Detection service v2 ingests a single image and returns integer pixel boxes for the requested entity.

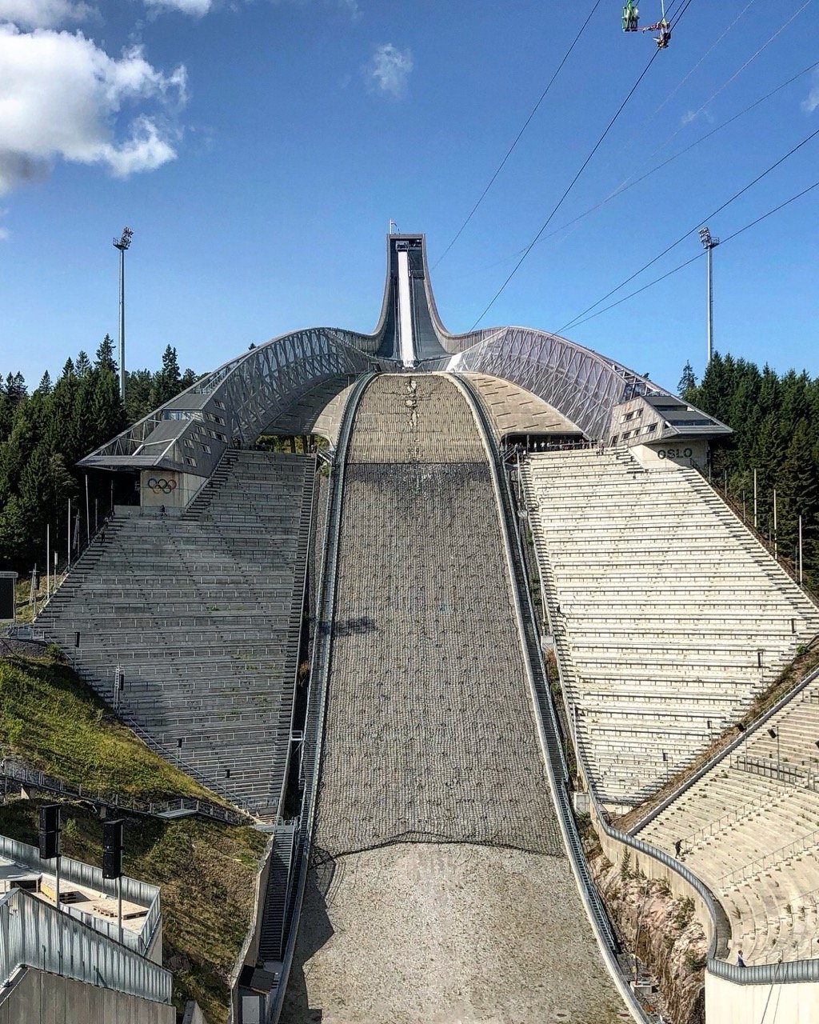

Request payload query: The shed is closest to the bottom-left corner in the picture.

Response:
[238,968,271,1024]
